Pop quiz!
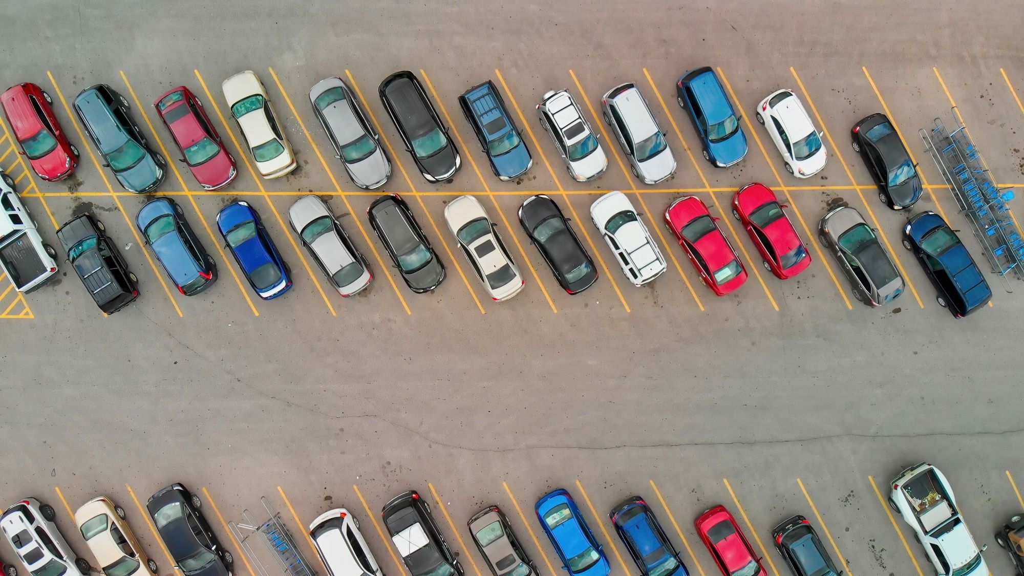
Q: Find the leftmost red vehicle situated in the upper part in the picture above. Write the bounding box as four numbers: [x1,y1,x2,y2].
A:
[1,82,83,181]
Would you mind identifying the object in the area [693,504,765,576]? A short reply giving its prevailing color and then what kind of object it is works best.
red car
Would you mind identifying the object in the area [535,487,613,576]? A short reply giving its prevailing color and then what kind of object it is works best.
blue car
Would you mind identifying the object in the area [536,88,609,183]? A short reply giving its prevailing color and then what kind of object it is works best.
white car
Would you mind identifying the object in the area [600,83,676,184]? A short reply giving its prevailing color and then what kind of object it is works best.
white car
